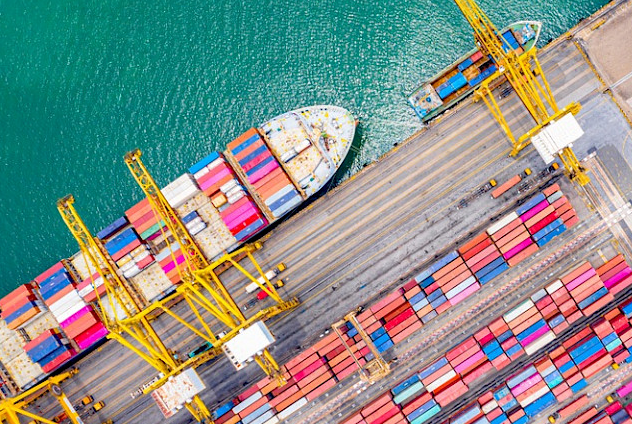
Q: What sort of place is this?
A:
port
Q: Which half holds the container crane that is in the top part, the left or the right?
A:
right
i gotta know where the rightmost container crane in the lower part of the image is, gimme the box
[329,306,394,380]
